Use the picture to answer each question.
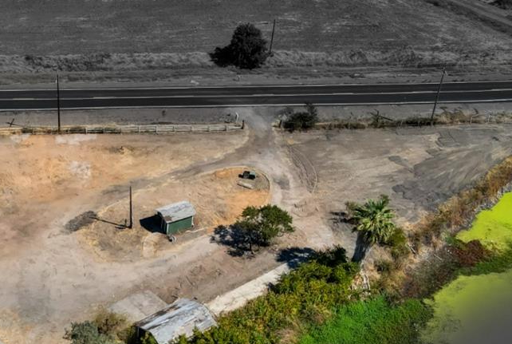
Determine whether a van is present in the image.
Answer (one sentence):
No, there's no van here.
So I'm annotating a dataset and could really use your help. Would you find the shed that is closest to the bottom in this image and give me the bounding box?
[133,297,217,344]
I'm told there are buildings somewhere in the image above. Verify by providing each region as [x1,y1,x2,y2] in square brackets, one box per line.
[133,297,217,344]
[148,198,195,233]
